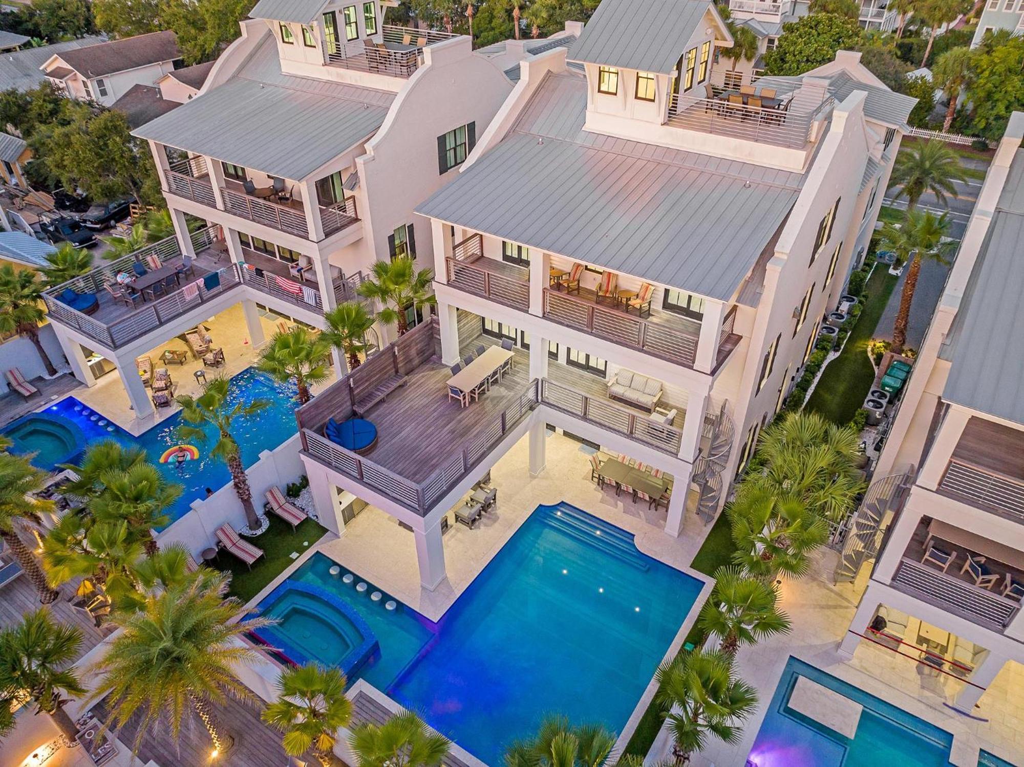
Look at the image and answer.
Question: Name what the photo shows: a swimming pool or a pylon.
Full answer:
Looking from above, you can make out a swimming pool.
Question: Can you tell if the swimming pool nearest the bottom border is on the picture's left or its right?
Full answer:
You can find the swimming pool nearest the bottom border on the right side of the picture.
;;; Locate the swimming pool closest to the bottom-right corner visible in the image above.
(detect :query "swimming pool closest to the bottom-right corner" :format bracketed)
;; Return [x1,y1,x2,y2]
[743,653,963,767]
